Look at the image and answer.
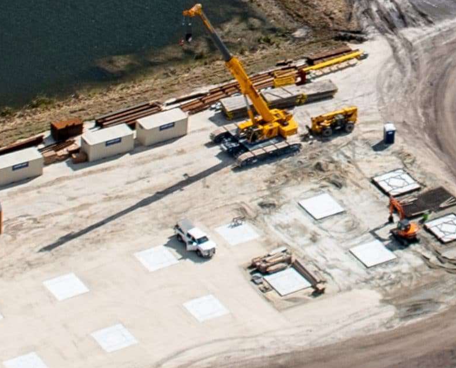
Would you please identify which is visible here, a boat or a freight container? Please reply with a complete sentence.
The image shows a freight container.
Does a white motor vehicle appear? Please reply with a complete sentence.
Yes, a white motor vehicle can be made out from above.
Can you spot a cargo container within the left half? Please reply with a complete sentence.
Yes, a cargo container shows up within the left half.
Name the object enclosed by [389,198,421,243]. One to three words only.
work vehicle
